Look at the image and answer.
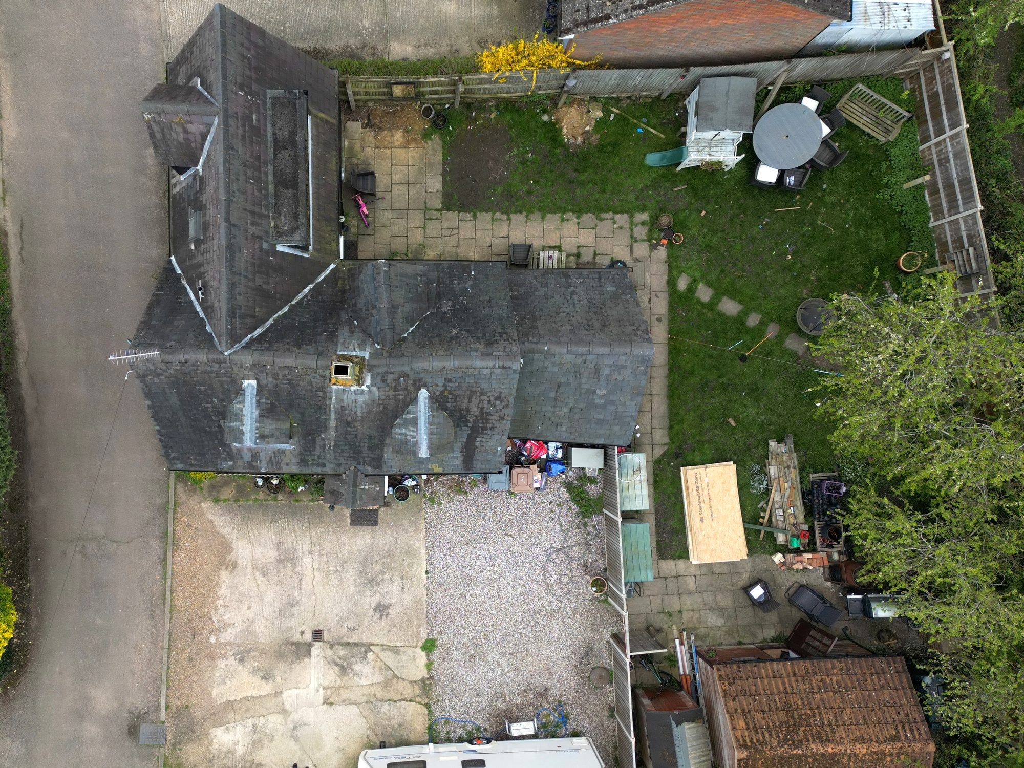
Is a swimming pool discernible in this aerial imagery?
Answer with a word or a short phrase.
No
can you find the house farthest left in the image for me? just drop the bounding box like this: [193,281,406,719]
[128,4,654,510]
